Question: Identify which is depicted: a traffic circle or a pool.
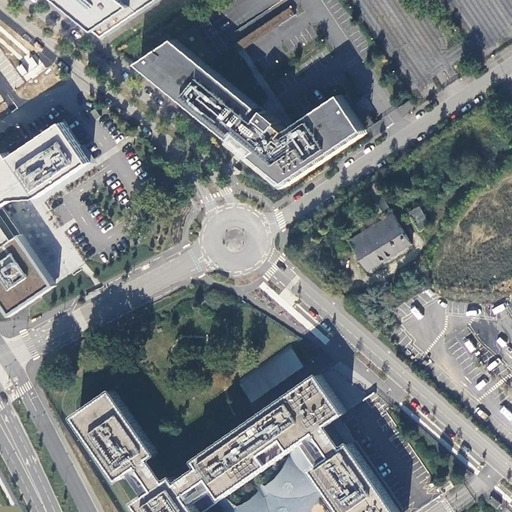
traffic circle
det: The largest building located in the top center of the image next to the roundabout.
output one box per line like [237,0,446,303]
[131,40,368,190]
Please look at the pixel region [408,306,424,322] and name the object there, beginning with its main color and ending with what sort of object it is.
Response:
white vehicle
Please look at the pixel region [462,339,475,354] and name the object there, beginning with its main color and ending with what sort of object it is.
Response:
white vehicle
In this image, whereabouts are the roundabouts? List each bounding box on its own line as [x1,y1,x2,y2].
[198,203,273,278]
